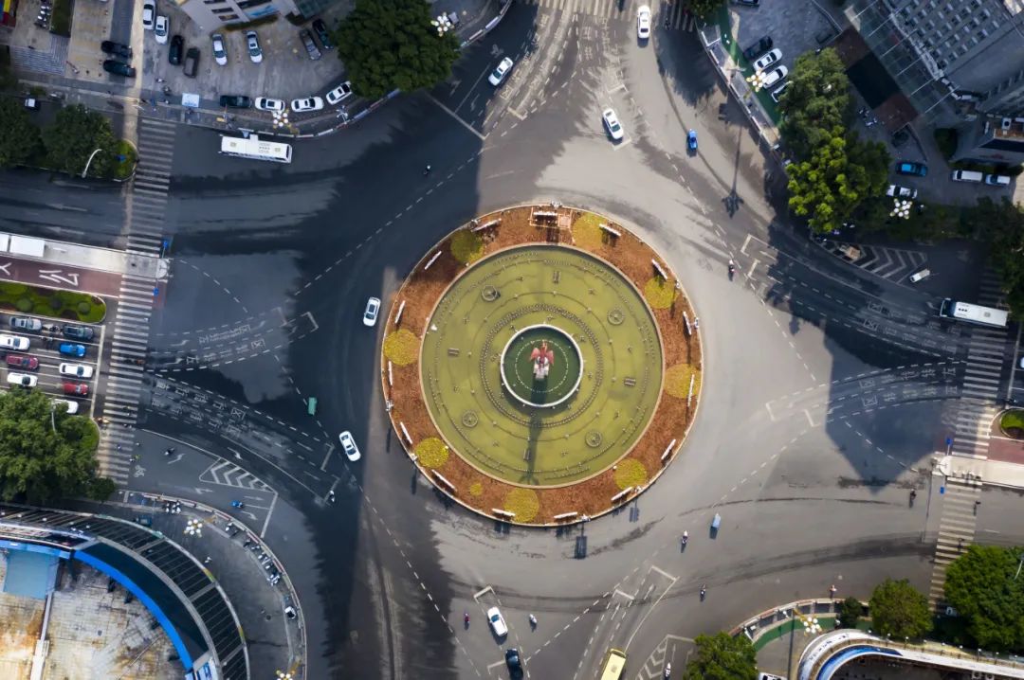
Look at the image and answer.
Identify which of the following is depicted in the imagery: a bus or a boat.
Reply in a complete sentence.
Visible in the photo is a bus.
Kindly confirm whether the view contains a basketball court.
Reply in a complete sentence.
No, I can't see a single basketball court in this photo.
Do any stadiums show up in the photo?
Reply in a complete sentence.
No, the frame has no stadium in it.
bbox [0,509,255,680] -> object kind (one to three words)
building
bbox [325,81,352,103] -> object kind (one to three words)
car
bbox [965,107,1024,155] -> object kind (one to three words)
building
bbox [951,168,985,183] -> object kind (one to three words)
vehicle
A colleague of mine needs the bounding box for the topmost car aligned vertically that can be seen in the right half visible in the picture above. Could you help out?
[636,5,652,39]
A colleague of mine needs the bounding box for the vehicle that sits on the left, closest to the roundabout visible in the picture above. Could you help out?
[364,296,380,327]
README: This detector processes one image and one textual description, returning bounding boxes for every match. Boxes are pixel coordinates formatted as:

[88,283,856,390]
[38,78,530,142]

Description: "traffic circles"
[381,205,703,527]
